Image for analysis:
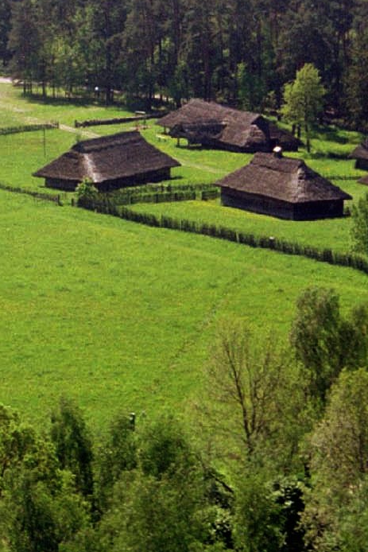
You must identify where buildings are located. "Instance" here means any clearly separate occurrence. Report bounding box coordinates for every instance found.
[317,129,368,170]
[29,134,188,193]
[211,147,354,221]
[161,105,310,153]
